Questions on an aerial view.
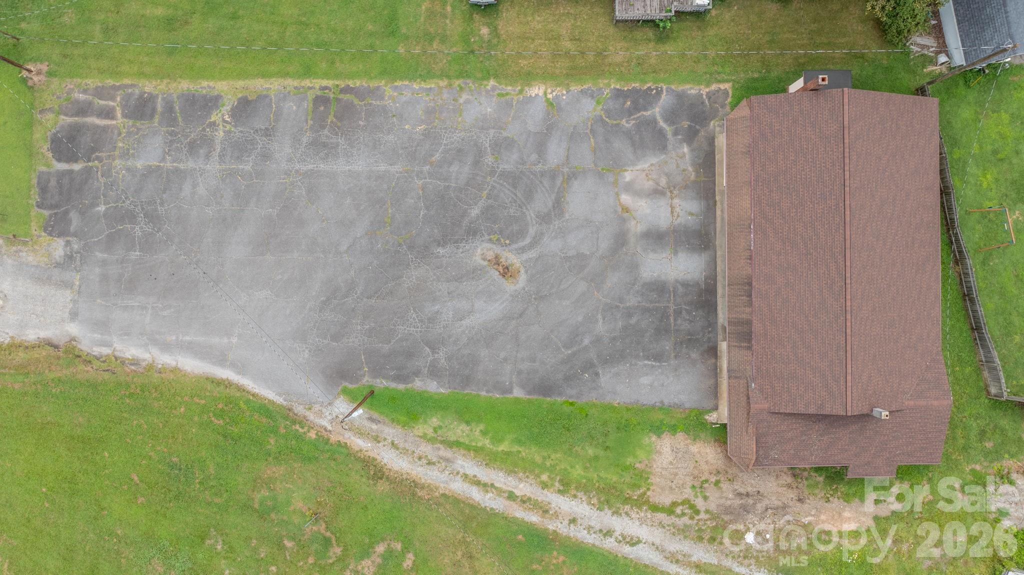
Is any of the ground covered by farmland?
No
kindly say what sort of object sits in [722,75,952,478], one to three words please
building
